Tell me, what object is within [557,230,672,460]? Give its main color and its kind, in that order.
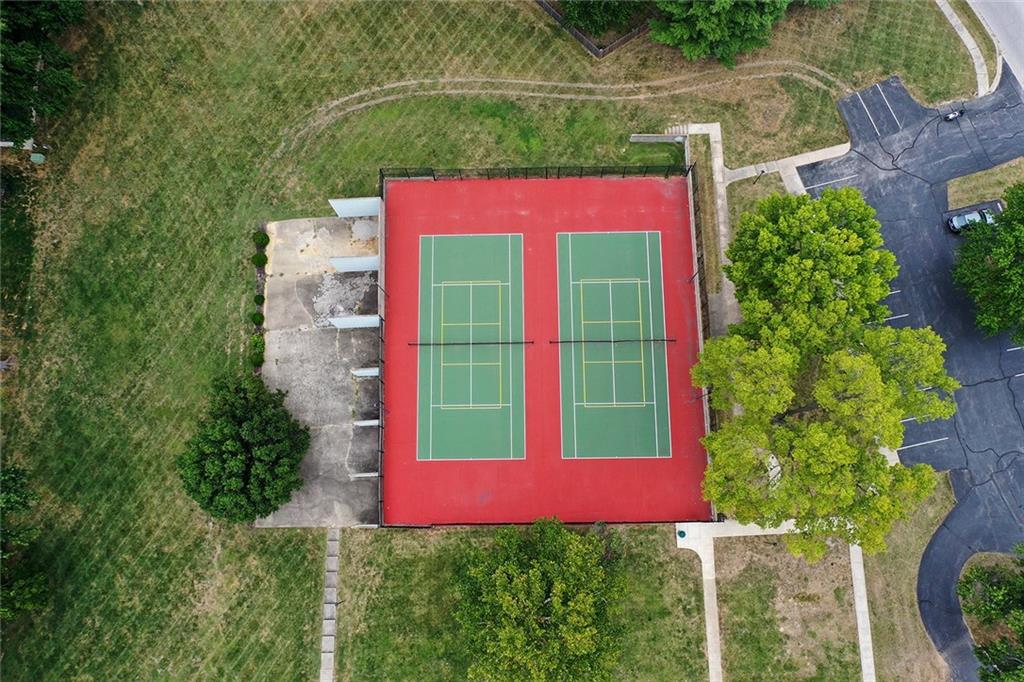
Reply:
green tennis court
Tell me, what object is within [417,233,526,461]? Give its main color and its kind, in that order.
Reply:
green tennis court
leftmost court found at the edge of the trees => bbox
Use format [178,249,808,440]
[255,216,380,528]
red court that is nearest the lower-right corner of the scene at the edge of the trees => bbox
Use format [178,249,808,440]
[380,176,716,527]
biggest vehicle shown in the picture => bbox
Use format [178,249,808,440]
[946,209,996,233]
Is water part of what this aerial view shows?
No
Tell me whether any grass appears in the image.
Yes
